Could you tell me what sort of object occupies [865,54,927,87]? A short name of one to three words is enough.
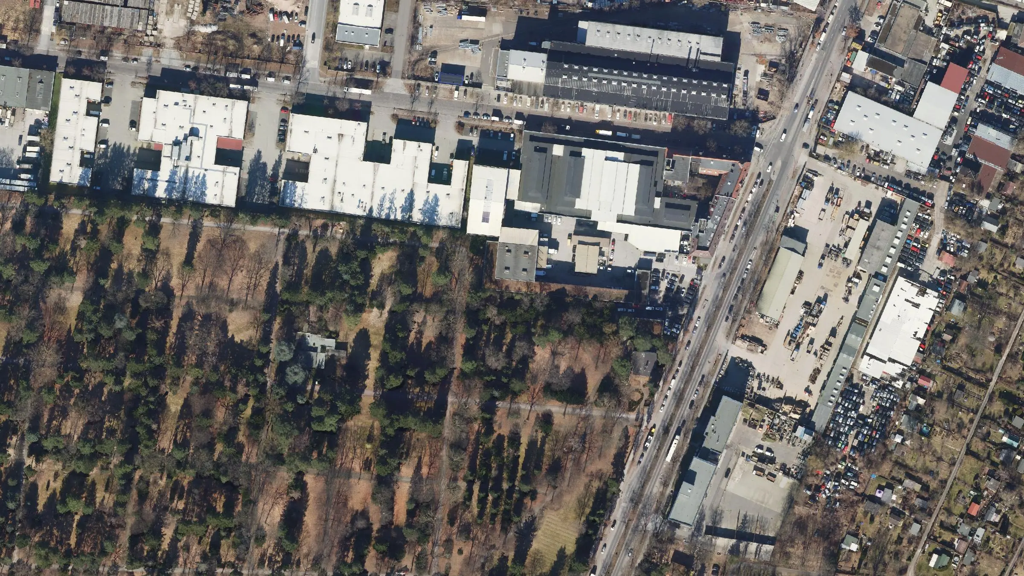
building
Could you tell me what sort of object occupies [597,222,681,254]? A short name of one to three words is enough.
shed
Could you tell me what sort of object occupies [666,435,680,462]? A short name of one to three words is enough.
vehicle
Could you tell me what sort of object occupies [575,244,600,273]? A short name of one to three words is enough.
barn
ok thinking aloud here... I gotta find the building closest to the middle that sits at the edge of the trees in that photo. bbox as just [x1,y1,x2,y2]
[496,227,548,282]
